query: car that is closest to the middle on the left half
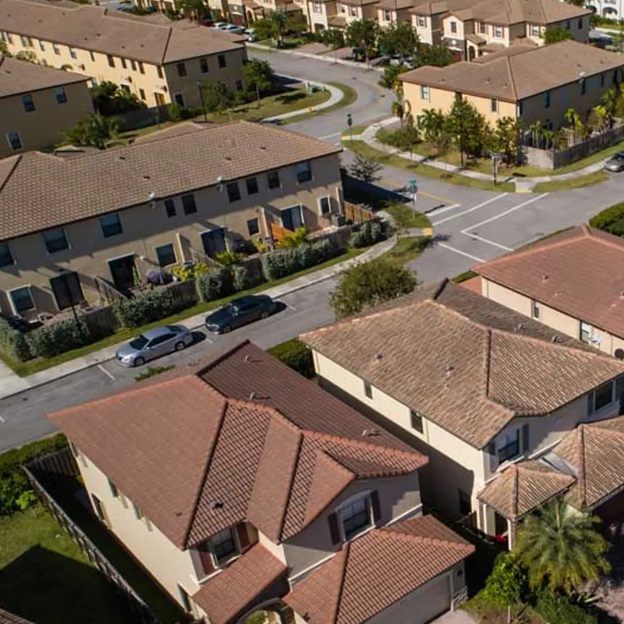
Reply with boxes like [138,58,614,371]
[204,293,277,331]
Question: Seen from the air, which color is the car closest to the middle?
black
